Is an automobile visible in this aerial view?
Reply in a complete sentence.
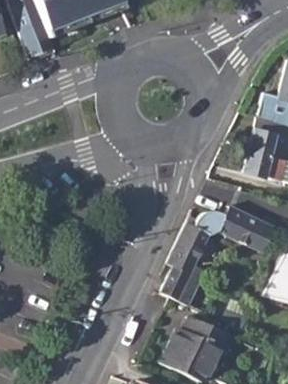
Yes, the picture does show an automobile.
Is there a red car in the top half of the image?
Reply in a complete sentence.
No, there is no red car in the top half of the image.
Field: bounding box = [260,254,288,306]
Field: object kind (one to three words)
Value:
building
